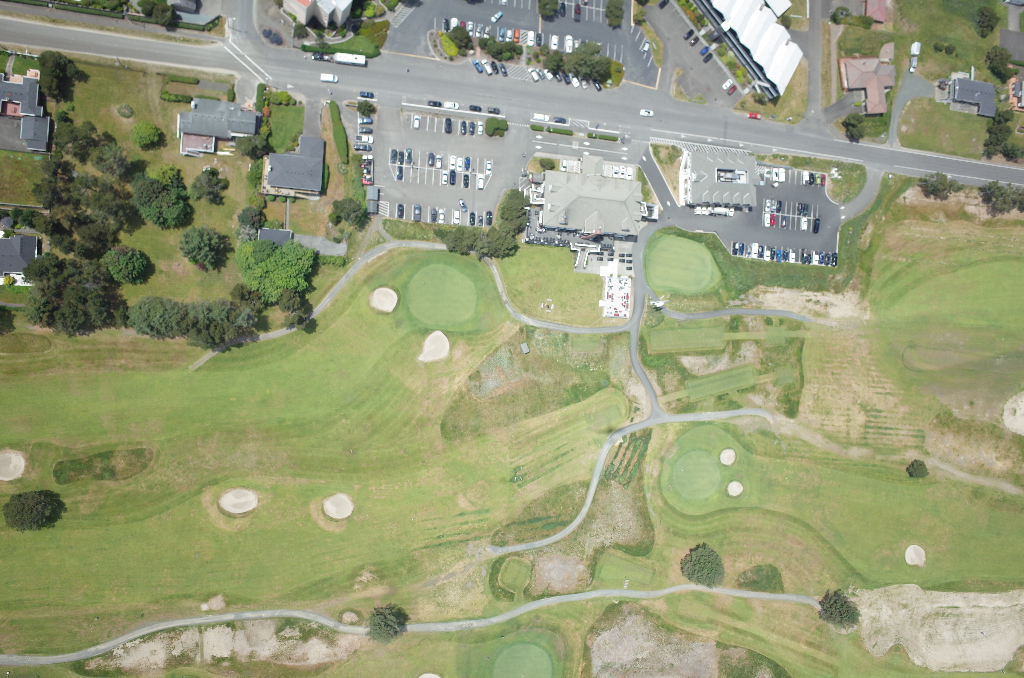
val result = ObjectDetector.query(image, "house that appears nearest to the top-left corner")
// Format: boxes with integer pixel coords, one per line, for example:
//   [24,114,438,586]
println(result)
[0,73,47,116]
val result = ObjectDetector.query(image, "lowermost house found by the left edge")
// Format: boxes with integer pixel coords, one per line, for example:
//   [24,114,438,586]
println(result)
[0,235,42,277]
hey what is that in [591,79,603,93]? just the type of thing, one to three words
vehicle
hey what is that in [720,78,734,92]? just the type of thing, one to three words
car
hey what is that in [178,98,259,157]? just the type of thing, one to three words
house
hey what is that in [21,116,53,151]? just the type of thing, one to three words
building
